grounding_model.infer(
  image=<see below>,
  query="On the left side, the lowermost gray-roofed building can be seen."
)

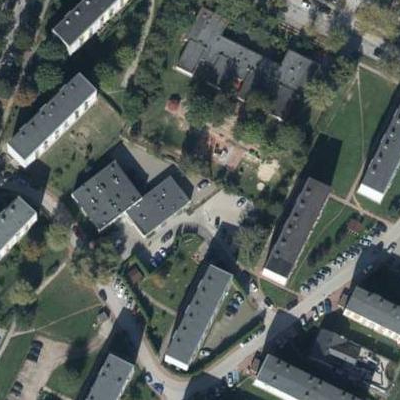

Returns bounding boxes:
[85,353,136,400]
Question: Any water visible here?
No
